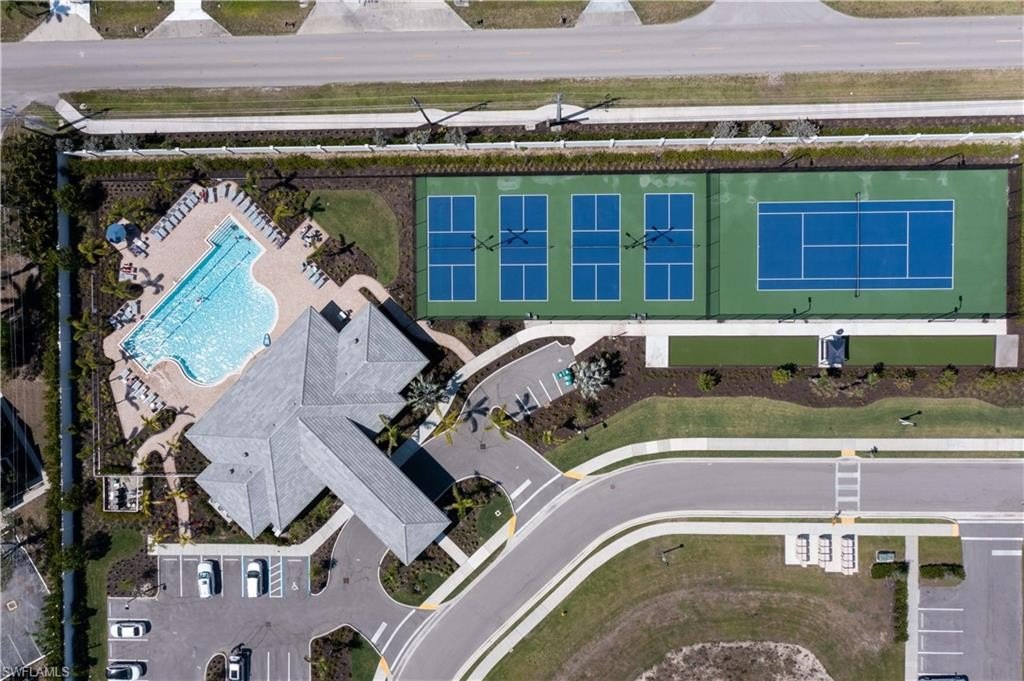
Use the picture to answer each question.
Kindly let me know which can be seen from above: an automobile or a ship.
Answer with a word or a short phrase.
automobile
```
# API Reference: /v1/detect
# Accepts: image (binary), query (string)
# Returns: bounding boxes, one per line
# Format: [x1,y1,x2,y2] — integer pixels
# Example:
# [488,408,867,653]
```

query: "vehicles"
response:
[228,658,246,681]
[104,663,141,681]
[196,560,217,598]
[110,622,144,639]
[244,560,263,598]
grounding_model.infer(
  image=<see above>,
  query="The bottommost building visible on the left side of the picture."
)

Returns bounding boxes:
[186,302,451,565]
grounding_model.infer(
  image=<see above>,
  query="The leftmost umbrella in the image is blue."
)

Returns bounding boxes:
[108,225,129,244]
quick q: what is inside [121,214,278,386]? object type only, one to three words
swimming pool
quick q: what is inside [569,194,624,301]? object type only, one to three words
sports court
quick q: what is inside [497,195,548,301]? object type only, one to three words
sports court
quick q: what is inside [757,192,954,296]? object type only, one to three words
tennis court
